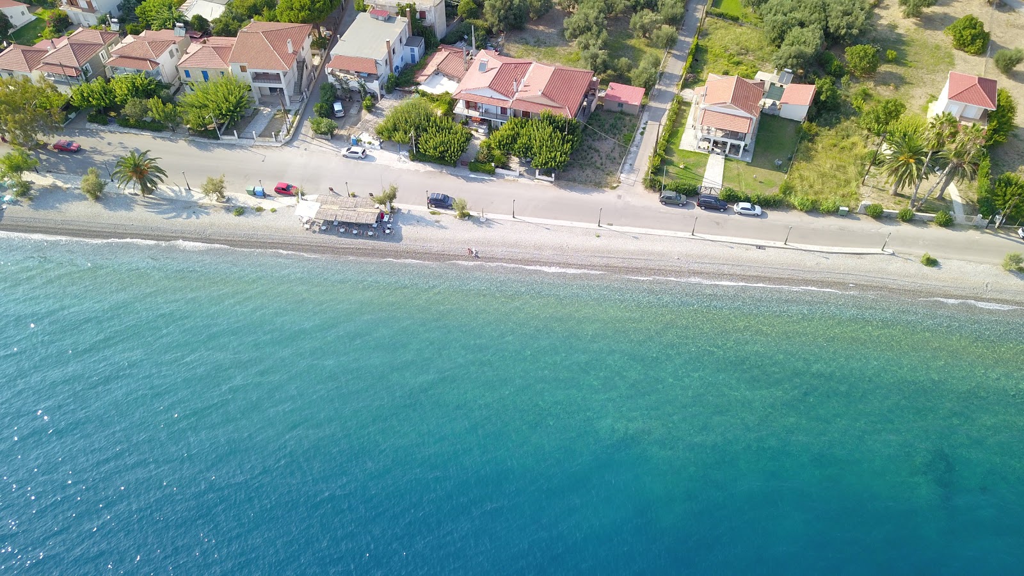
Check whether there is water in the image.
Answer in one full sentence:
Yes, water can be seen from above here.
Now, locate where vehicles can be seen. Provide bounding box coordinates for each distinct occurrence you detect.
[428,192,455,209]
[341,146,366,159]
[54,138,81,152]
[733,201,763,216]
[658,190,686,207]
[698,194,728,212]
[273,181,295,195]
[1016,229,1024,239]
[332,100,344,114]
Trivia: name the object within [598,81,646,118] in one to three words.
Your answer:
shed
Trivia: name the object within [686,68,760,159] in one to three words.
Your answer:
house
